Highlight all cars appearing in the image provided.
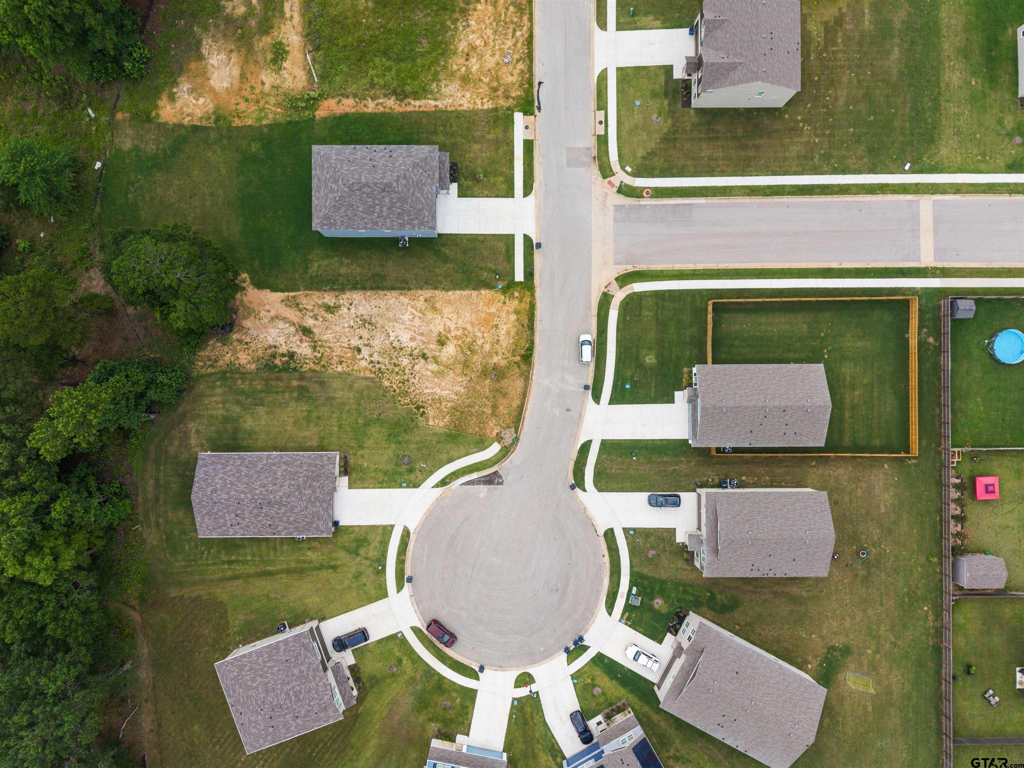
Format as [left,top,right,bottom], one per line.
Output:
[626,644,660,672]
[335,627,370,651]
[427,619,456,645]
[571,708,593,741]
[647,492,682,508]
[578,333,594,363]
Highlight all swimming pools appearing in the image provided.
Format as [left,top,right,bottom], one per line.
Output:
[985,328,1024,365]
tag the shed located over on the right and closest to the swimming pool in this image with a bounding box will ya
[952,299,977,318]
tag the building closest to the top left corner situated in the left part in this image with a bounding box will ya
[311,144,452,237]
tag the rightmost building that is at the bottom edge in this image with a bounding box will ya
[654,611,827,768]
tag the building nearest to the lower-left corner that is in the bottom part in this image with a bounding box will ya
[214,620,359,754]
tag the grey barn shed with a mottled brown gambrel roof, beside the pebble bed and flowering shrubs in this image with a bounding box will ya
[954,555,1007,588]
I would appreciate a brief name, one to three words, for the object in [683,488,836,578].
house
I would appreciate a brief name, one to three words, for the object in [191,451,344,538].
house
